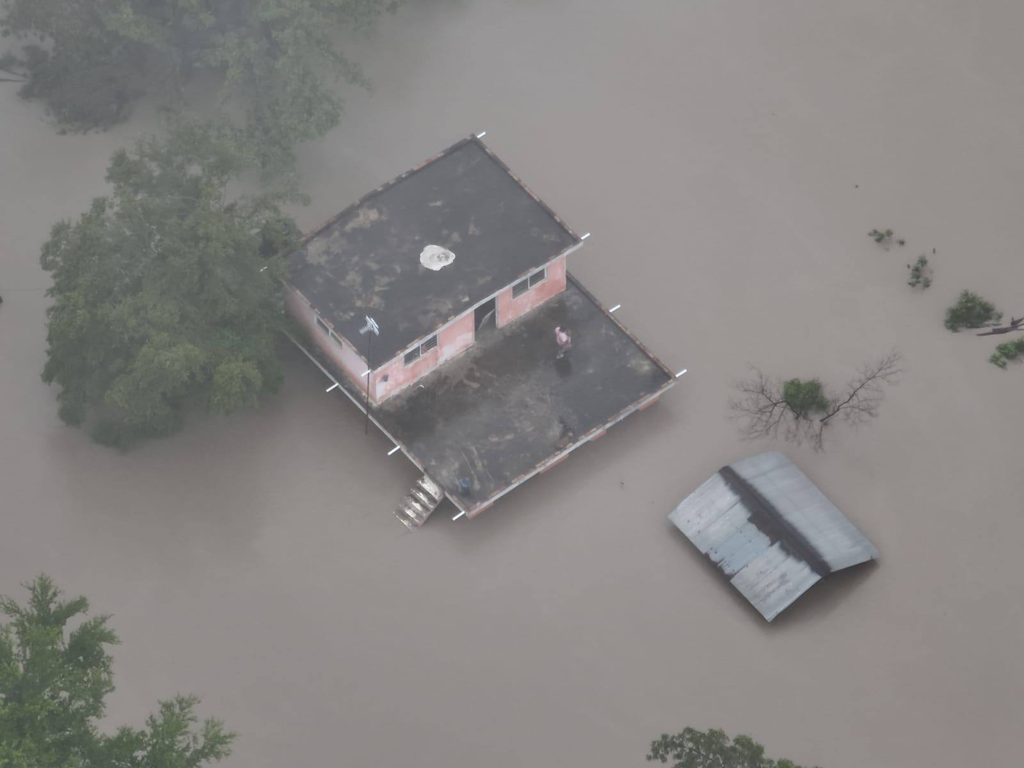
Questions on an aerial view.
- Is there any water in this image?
Yes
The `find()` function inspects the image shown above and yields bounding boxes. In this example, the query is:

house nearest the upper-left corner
[270,131,686,534]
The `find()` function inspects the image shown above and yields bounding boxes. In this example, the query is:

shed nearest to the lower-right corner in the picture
[669,451,877,621]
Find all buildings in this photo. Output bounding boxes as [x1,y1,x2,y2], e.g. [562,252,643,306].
[270,131,686,534]
[669,451,877,621]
